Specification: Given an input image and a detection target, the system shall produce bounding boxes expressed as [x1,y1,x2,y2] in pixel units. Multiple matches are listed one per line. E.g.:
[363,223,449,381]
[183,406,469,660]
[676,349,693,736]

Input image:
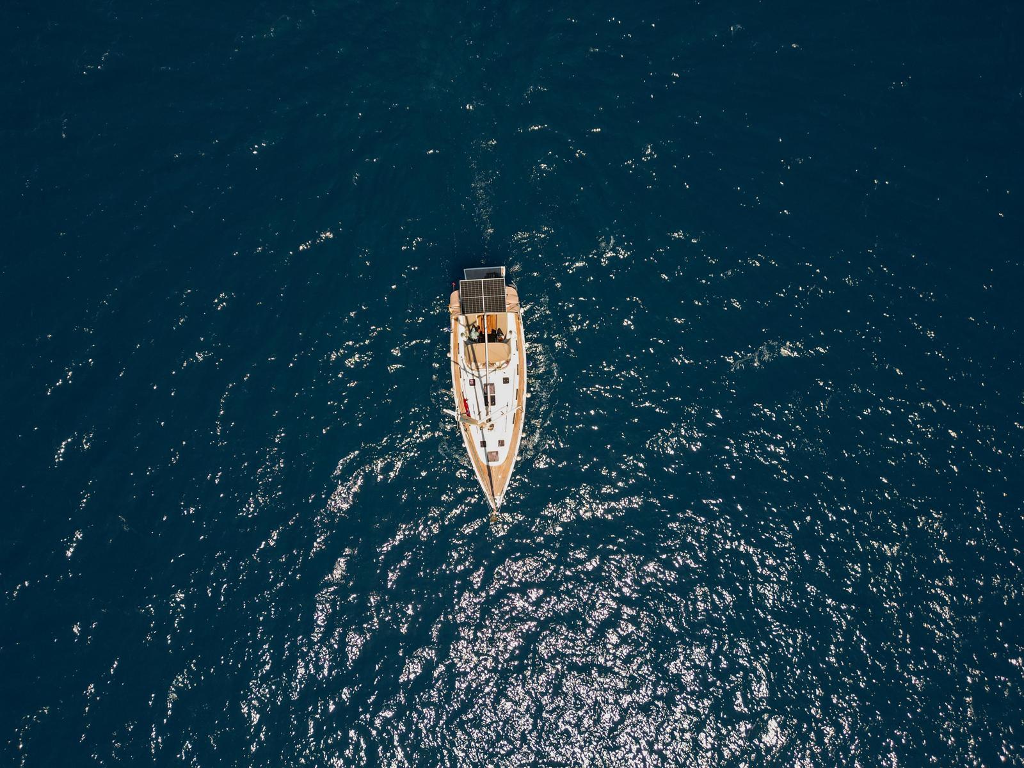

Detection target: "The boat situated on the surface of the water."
[442,267,527,514]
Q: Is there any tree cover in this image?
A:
No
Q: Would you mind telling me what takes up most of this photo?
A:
water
